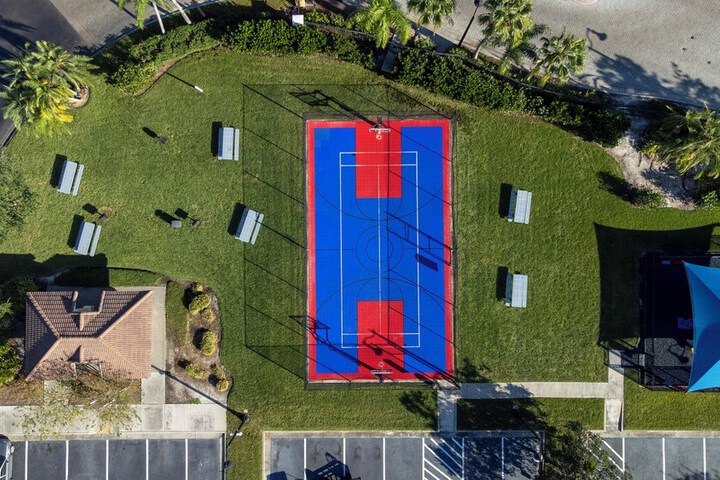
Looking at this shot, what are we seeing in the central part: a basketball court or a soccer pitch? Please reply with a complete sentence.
You can see a basketball court in the central part.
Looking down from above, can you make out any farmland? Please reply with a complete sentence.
No, farmland can't be seen anywhere here.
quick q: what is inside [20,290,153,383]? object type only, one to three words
building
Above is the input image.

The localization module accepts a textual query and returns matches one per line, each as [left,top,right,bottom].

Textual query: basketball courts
[306,117,454,383]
